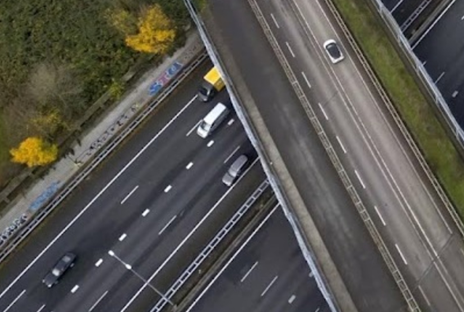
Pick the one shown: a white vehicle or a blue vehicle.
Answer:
white vehicle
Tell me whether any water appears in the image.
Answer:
No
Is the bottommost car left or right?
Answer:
left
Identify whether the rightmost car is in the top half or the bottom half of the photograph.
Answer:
top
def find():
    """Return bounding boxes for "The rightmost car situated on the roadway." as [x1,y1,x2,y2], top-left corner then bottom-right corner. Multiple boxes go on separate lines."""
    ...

[323,38,347,66]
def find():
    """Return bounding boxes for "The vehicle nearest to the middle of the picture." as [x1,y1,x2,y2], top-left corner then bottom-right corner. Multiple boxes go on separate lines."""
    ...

[219,155,252,187]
